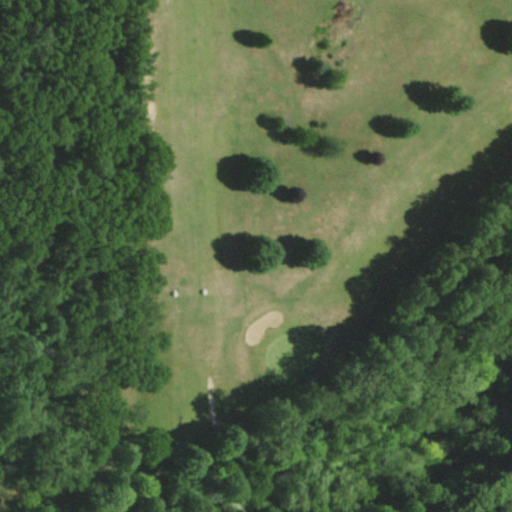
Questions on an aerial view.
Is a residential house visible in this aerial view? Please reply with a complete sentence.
No, the frame has no residential house in it.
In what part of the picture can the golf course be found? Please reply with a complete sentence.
The golf course appears toward the center of the photo.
